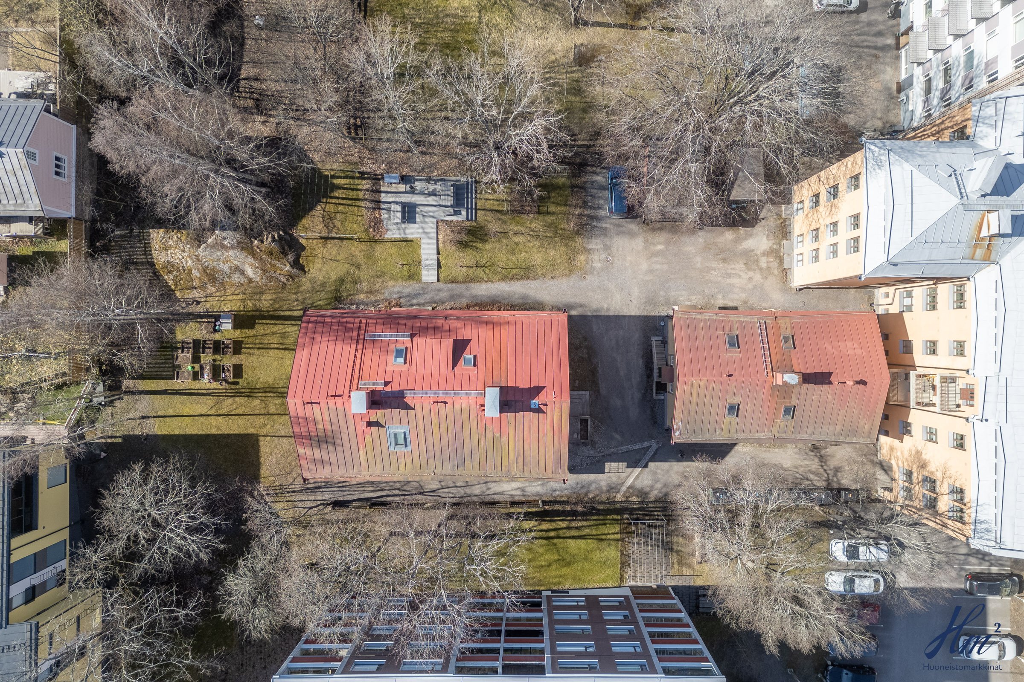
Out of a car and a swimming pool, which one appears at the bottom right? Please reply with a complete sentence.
What appears at the bottom right is a car.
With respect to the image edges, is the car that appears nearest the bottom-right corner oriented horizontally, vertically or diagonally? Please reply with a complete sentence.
In this picture, the car that appears nearest the bottom-right corner is oriented horizontally.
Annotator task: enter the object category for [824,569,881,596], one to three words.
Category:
car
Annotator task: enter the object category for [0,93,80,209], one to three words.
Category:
house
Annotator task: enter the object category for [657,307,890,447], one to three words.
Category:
house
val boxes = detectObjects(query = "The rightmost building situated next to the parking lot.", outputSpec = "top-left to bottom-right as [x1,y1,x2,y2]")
[791,88,1024,555]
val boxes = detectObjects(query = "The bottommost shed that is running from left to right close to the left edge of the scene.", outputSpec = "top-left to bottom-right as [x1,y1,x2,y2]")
[12,221,55,235]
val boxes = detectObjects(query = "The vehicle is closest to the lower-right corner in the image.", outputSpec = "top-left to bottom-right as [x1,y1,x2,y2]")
[955,633,1013,661]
